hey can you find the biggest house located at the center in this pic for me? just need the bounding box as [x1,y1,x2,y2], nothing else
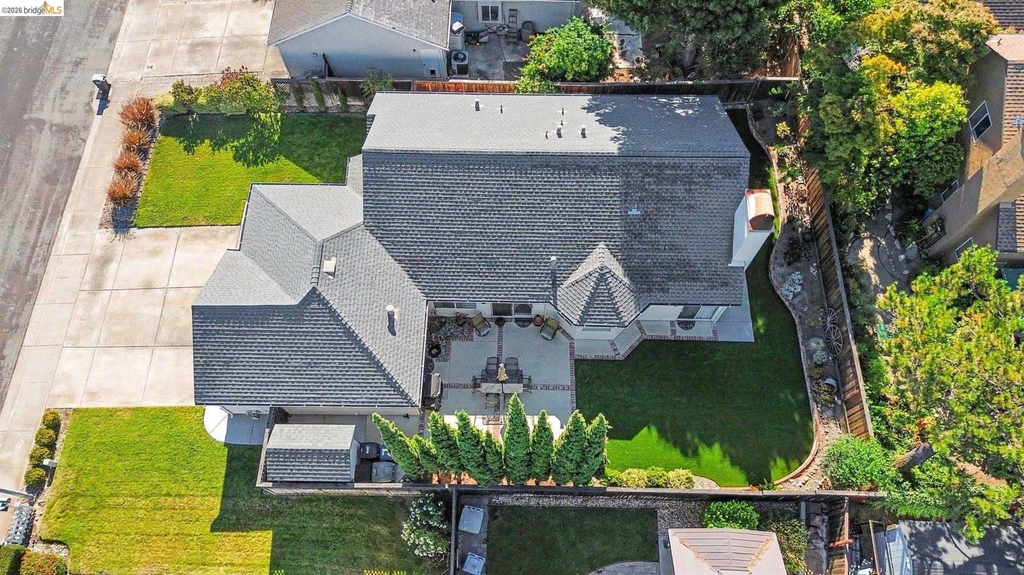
[187,91,773,413]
